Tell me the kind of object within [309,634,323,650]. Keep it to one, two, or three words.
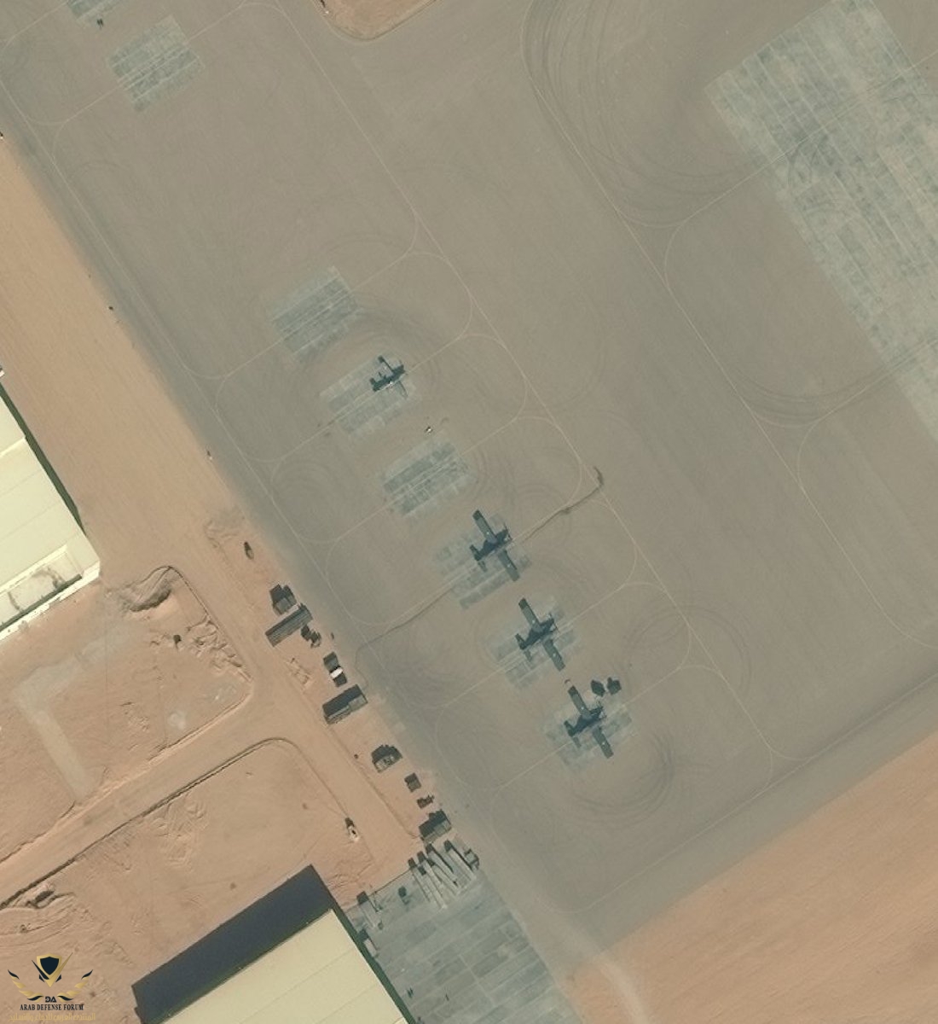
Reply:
vehicle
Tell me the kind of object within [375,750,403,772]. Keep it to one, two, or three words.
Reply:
truck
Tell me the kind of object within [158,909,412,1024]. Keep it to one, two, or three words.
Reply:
hangar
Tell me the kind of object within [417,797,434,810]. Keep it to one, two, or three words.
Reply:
vehicle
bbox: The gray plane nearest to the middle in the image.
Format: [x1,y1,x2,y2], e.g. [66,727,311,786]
[471,518,519,579]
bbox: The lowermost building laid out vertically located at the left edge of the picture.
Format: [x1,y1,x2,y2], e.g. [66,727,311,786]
[0,405,101,635]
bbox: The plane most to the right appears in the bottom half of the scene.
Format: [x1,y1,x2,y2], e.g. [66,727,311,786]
[565,695,614,756]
